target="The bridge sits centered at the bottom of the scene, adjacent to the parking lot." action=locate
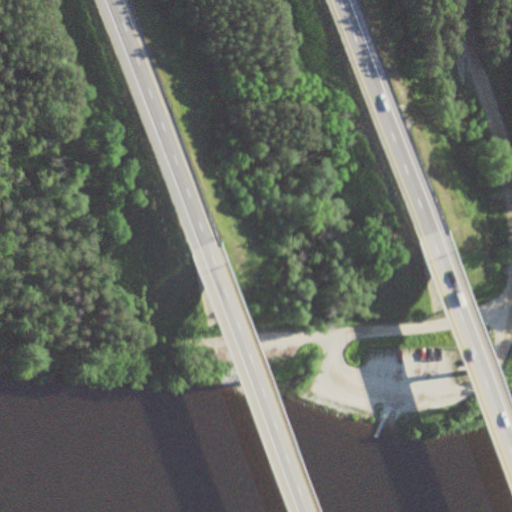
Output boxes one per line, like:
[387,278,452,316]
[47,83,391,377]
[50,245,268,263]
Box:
[192,238,326,512]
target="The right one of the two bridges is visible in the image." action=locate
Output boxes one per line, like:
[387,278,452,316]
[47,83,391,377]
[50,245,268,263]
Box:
[417,226,512,498]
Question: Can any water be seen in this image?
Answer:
Yes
